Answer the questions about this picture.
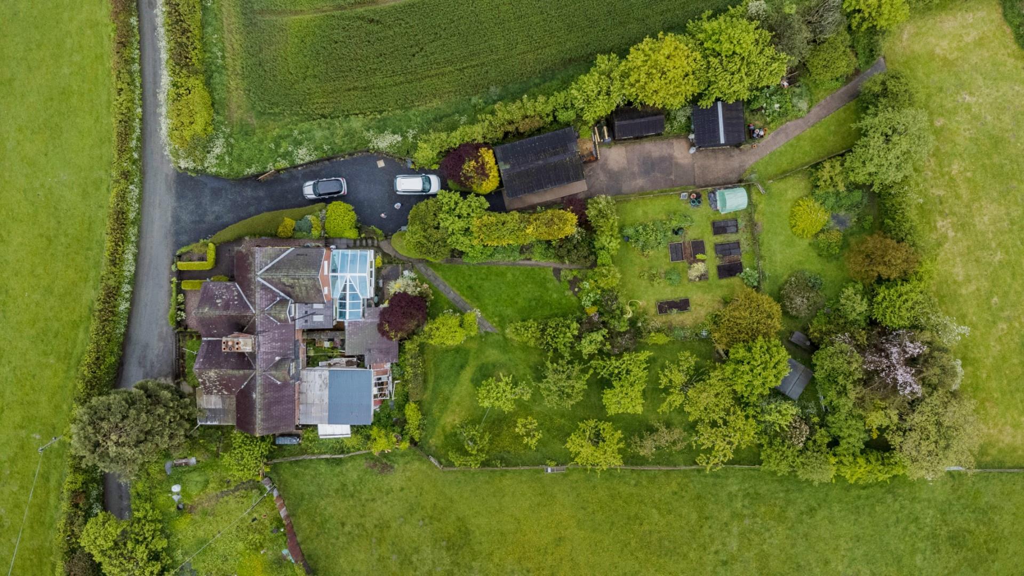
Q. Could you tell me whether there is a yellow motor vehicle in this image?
No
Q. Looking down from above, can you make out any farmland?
Yes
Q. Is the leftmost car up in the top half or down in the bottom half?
top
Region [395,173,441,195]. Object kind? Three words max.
car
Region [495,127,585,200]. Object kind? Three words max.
building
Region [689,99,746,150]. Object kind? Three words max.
shed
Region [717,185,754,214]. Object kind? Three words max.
greenhouse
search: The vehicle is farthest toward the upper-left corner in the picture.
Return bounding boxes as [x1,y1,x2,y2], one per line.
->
[304,177,349,200]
